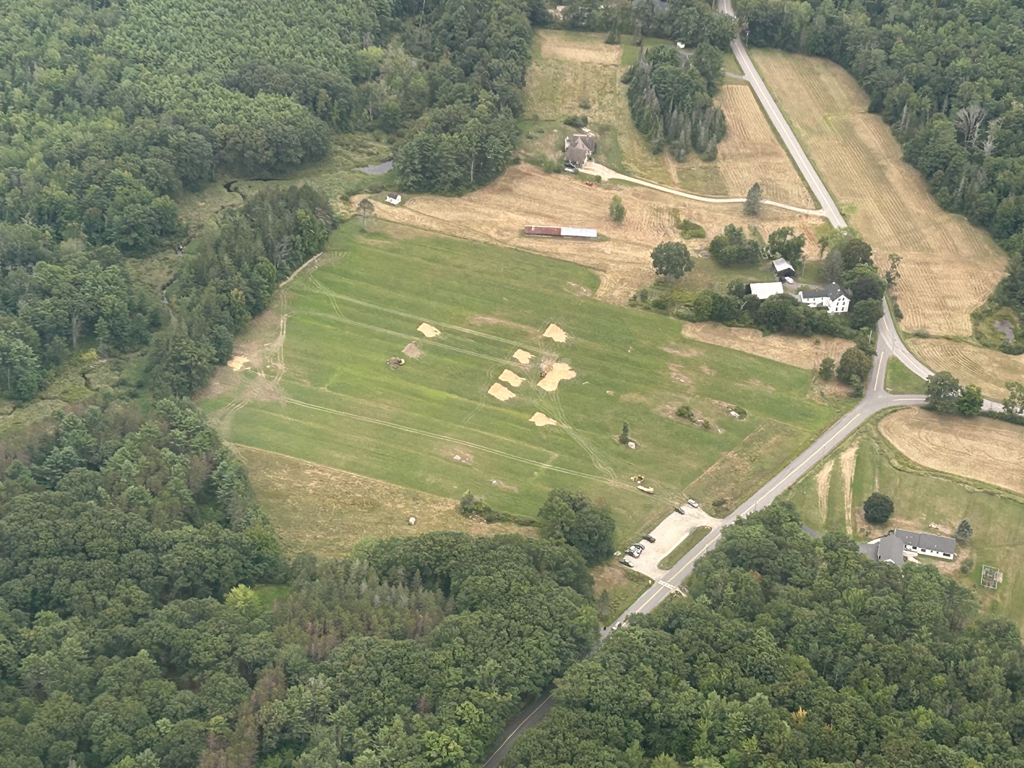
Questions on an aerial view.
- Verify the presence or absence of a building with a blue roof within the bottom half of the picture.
No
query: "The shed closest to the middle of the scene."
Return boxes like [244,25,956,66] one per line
[525,225,597,239]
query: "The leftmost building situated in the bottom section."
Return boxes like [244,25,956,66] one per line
[874,527,955,559]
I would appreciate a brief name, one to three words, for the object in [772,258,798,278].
barn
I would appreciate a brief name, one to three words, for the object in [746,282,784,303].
barn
